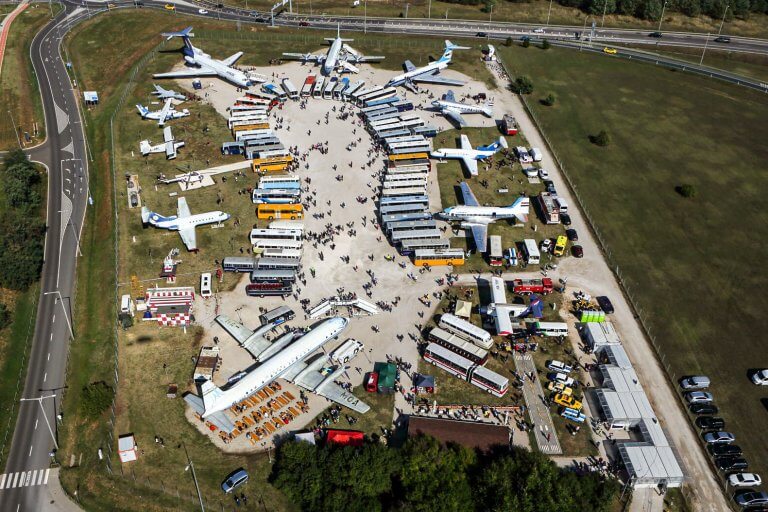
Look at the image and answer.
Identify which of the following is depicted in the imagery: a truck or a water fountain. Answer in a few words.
truck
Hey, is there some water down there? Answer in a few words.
No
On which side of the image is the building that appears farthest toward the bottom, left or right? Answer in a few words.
right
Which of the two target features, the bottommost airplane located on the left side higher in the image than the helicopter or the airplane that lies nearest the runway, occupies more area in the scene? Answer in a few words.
the airplane that lies nearest the runway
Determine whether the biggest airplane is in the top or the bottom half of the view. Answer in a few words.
bottom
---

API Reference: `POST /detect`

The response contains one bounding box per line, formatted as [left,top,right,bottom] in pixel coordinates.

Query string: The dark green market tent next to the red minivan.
[376,361,400,394]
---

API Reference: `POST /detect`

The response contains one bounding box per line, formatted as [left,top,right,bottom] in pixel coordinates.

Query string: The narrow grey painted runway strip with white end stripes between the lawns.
[513,352,562,454]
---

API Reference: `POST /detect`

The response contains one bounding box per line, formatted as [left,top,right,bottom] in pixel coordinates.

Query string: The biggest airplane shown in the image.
[186,310,371,430]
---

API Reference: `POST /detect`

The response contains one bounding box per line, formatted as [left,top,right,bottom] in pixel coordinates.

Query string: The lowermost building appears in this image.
[611,445,684,489]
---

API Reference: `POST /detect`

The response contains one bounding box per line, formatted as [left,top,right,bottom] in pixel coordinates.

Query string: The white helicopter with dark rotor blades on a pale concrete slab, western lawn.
[157,164,214,187]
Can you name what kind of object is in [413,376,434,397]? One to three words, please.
tent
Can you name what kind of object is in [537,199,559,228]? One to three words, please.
truck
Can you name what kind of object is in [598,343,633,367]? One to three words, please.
building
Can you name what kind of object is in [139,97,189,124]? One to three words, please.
airplane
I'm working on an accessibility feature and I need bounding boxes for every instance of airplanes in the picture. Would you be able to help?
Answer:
[136,125,187,157]
[478,275,546,334]
[431,88,494,123]
[434,134,510,175]
[440,182,532,251]
[380,47,470,91]
[148,87,188,103]
[141,196,230,251]
[152,27,248,88]
[139,97,189,124]
[186,310,371,430]
[283,24,385,79]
